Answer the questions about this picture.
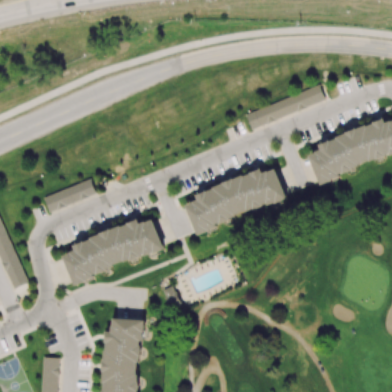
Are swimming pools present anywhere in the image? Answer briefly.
Yes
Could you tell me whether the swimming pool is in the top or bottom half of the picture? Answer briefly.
bottom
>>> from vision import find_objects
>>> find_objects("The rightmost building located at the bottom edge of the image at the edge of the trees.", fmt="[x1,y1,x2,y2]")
[99,318,142,392]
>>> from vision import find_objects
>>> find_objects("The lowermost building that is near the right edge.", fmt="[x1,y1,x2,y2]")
[311,118,392,184]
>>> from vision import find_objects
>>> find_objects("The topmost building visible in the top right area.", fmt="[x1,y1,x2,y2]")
[246,82,326,132]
